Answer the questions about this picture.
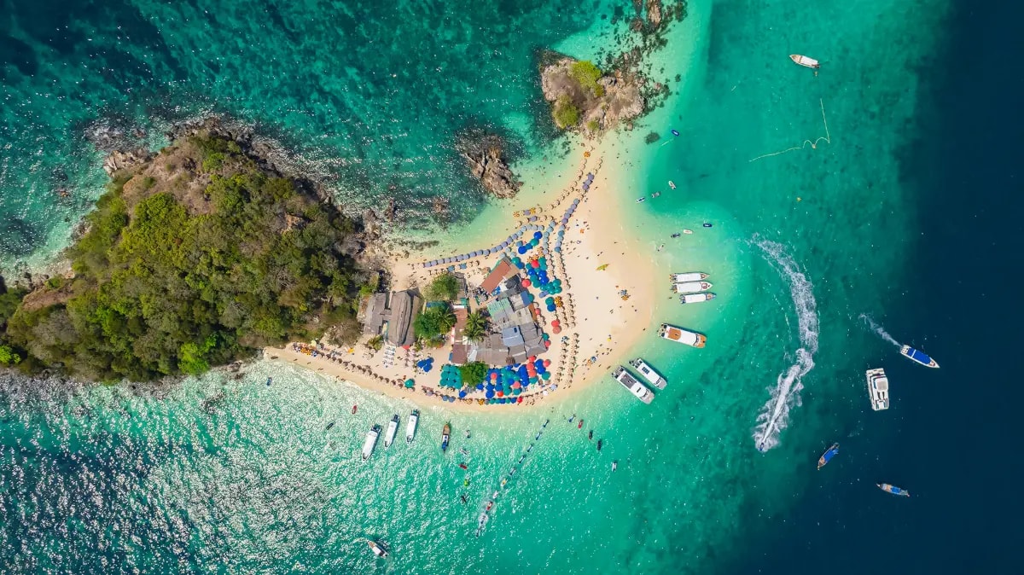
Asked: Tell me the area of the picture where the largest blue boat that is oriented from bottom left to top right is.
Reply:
bottom right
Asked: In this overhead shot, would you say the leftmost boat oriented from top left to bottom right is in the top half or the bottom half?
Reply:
bottom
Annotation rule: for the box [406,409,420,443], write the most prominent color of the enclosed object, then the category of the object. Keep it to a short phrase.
white boat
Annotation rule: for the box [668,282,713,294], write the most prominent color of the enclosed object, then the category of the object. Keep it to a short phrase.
white boat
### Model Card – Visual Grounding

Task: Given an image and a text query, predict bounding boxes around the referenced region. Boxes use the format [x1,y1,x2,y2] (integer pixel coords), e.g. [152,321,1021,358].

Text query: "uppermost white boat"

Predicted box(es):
[789,55,821,71]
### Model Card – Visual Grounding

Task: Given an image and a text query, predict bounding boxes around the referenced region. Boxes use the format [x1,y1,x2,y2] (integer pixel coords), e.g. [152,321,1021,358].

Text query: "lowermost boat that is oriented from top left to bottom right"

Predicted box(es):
[368,539,390,559]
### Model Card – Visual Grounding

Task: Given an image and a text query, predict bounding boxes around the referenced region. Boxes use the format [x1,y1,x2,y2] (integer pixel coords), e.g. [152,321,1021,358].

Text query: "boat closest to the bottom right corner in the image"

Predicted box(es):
[877,484,912,497]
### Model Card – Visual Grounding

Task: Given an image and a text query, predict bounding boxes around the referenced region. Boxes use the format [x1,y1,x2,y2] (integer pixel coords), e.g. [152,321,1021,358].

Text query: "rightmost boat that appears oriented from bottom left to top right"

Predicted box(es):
[818,442,841,471]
